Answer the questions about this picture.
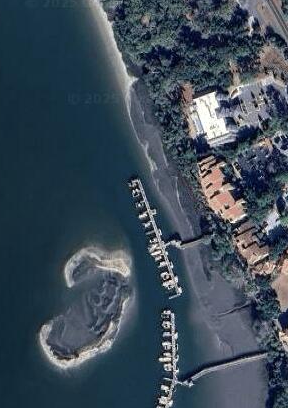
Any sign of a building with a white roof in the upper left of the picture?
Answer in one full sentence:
No, there's no building with a white roof to be seen in the upper left of the picture.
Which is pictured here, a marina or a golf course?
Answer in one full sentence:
This image shows a marina.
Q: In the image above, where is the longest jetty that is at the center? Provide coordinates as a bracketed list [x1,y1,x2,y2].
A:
[130,180,182,296]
